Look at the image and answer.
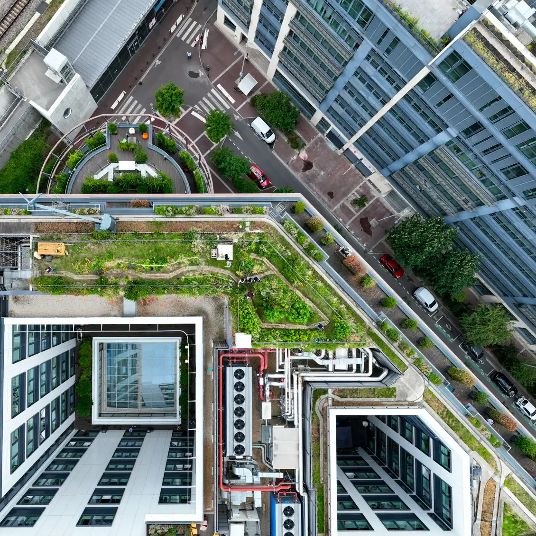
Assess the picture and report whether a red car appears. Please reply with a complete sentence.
Yes, there is a red car in the image.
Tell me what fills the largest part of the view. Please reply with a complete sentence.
The largest share of the image is taken up by buildings.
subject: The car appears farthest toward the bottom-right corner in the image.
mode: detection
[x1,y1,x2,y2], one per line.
[516,396,536,421]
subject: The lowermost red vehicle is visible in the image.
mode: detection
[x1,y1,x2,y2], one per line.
[380,251,403,278]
